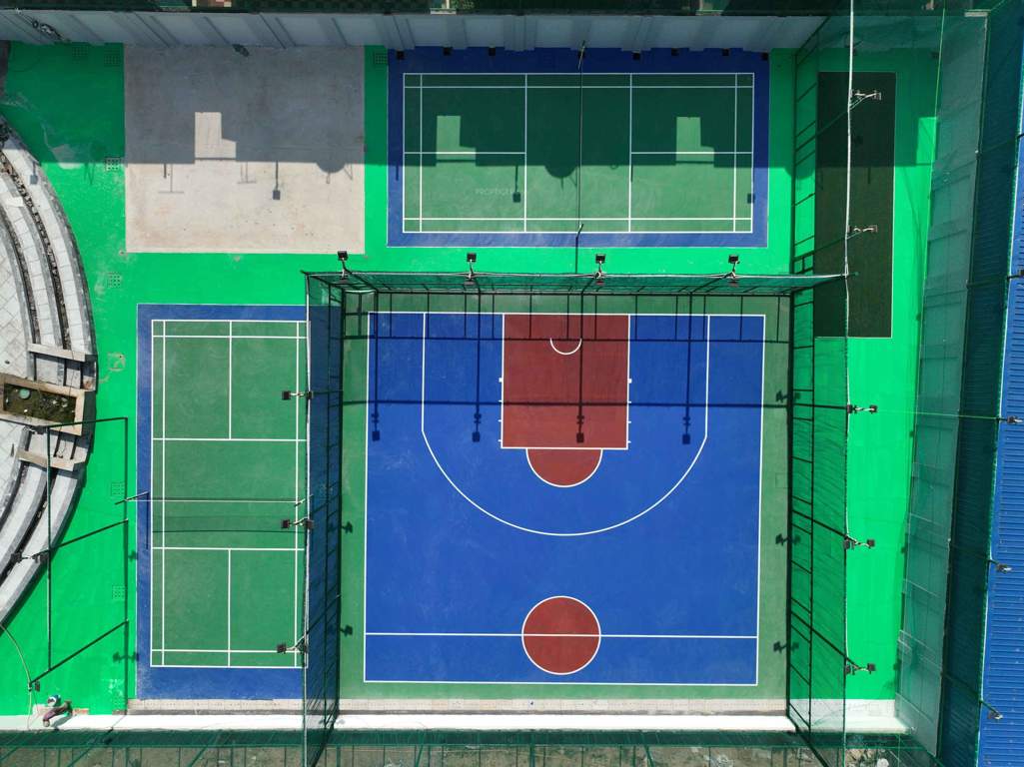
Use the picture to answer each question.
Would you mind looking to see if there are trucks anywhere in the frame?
No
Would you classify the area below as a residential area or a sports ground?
sports ground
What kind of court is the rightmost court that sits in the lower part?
basketball court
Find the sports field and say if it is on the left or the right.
right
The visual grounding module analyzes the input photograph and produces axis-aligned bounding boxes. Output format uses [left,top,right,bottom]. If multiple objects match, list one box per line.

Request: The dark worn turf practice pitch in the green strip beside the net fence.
[815,70,898,339]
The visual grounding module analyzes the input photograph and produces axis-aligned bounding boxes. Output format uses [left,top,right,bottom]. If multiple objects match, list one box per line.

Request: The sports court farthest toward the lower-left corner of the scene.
[135,303,340,699]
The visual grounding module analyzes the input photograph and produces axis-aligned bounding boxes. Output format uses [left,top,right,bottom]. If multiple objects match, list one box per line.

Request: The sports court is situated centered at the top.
[386,45,771,247]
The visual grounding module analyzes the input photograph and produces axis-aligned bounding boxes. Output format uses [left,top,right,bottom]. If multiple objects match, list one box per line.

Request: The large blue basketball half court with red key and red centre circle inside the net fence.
[339,293,790,699]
